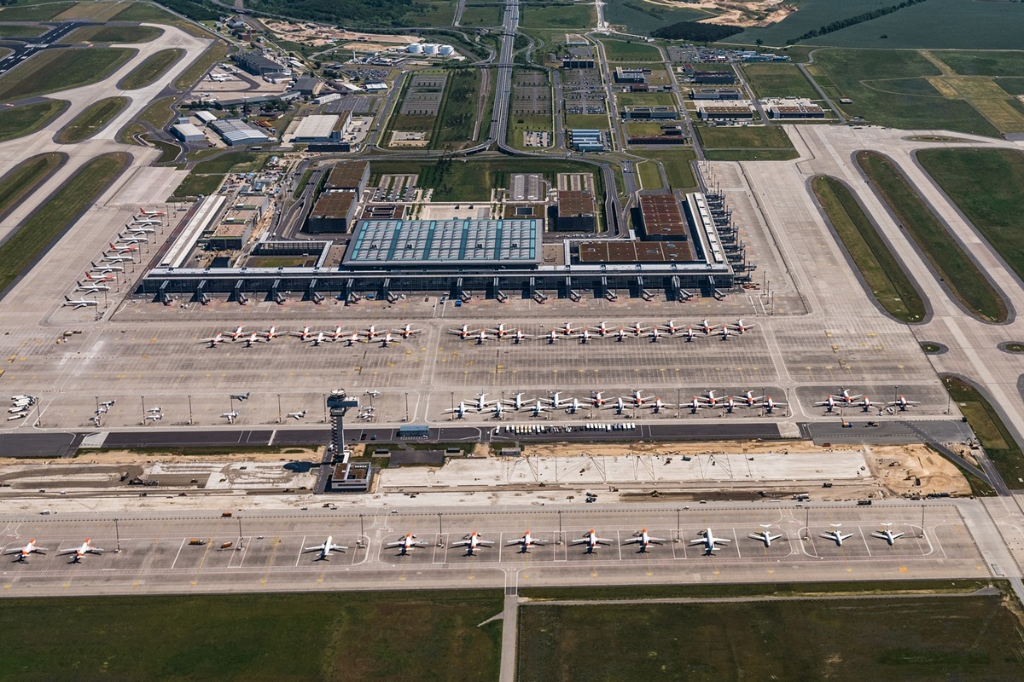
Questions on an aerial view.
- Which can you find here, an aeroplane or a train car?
aeroplane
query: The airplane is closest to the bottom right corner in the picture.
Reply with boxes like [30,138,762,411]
[874,518,904,539]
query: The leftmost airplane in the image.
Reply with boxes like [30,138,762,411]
[4,535,47,554]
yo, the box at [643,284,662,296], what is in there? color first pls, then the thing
gray jet bridge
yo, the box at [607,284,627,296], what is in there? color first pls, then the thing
gray jet bridge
